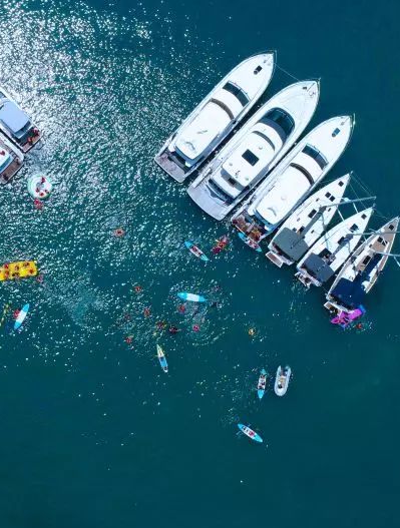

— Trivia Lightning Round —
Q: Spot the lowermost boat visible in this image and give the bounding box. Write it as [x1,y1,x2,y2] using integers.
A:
[237,425,262,442]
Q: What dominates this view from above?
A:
water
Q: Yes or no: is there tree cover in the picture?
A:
No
